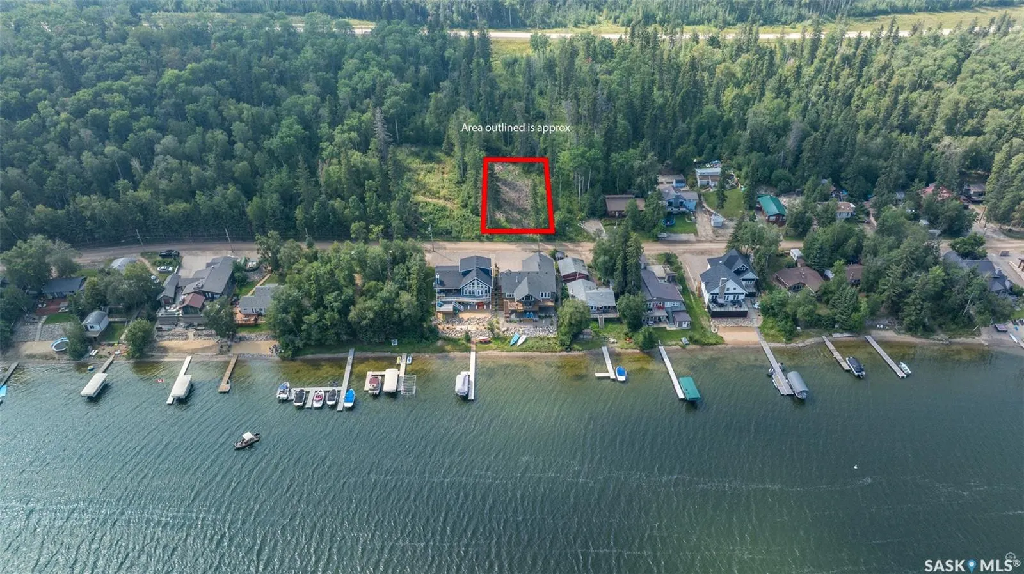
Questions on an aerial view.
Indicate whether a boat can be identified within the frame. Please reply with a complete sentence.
Yes, you can see a boat in this photo.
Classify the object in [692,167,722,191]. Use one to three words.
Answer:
building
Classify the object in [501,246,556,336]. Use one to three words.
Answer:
house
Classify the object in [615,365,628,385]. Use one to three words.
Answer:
boat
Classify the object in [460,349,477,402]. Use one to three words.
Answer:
pier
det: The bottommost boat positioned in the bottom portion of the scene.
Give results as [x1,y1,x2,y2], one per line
[232,431,266,450]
